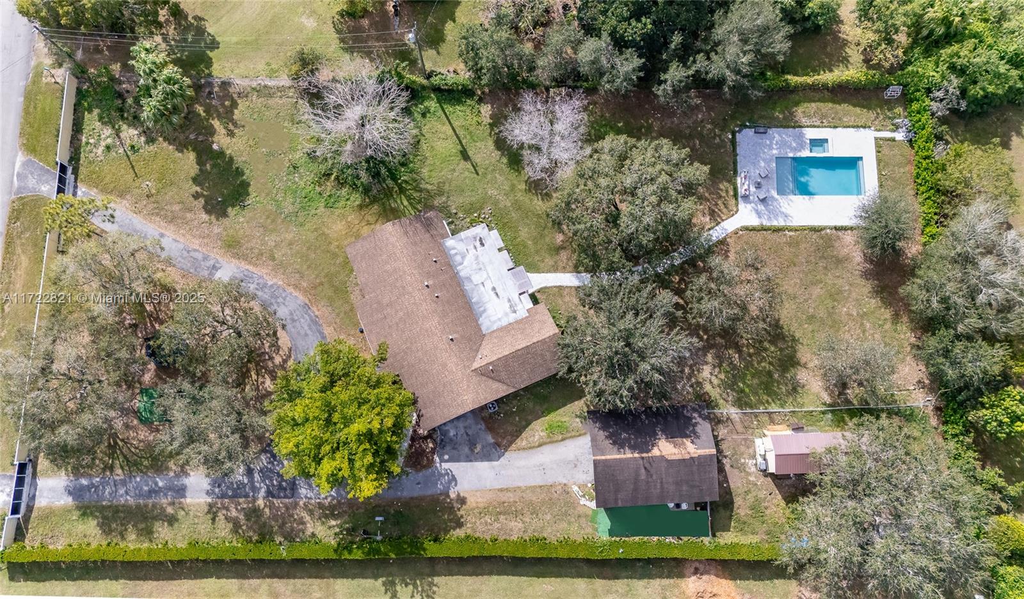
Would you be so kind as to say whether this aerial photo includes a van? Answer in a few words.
No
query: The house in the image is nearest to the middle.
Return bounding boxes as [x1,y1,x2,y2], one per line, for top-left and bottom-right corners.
[345,209,574,435]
